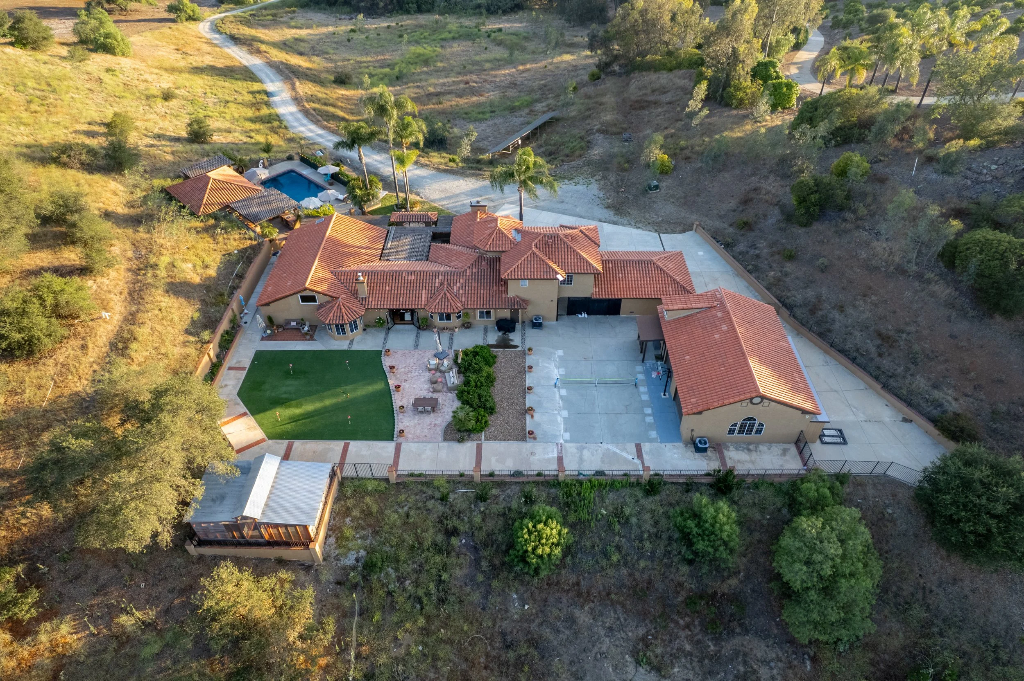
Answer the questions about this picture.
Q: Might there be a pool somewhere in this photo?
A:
Yes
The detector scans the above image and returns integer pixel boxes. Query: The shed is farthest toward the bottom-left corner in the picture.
[186,450,335,544]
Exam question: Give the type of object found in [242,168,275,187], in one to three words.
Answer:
umbrella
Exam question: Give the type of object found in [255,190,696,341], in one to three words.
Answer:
house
